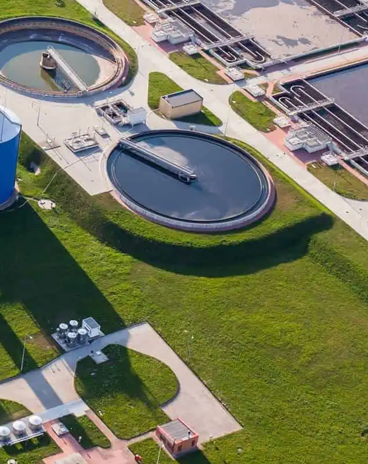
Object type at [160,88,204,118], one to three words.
shed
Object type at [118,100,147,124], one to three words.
building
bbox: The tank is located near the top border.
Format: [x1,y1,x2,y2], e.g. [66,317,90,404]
[0,12,130,99]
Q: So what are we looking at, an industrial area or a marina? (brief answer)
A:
industrial area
